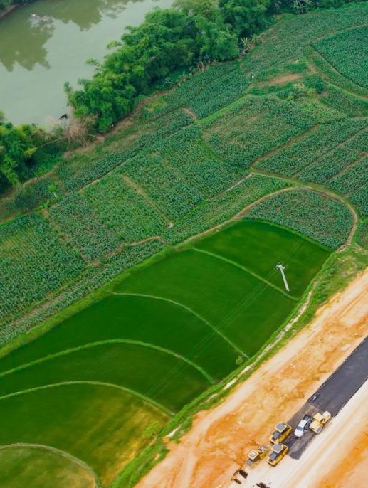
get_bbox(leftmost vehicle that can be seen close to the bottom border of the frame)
[246,441,271,468]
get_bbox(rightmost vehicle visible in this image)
[308,410,331,436]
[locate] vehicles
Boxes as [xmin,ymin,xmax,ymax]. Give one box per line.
[269,420,294,444]
[290,414,314,438]
[308,410,331,436]
[266,439,291,466]
[246,441,271,468]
